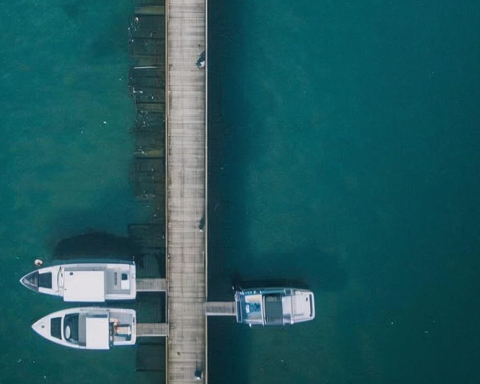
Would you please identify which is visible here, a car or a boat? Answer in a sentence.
There is a boat in the scene.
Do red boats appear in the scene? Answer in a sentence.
No, there's no red boat here.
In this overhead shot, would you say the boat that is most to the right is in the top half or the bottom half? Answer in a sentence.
It is in the bottom half that the boat that is most to the right appears.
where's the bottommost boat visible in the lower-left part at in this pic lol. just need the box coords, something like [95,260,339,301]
[31,301,157,349]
